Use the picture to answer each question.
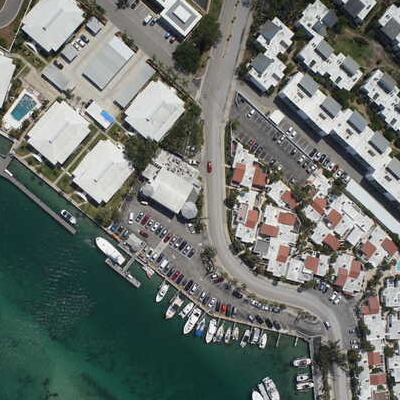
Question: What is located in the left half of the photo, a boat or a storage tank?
boat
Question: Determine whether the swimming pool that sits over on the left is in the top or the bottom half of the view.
top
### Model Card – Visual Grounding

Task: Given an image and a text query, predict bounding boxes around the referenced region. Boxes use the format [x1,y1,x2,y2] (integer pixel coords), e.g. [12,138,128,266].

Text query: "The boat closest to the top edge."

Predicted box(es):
[62,211,77,223]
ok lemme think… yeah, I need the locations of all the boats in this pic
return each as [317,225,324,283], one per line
[241,329,251,349]
[196,319,206,338]
[166,293,184,319]
[252,327,261,345]
[142,265,151,277]
[263,376,280,400]
[234,327,240,342]
[215,323,225,344]
[96,237,126,267]
[180,303,193,319]
[293,358,314,367]
[225,327,232,345]
[297,375,312,382]
[207,317,218,344]
[157,282,170,301]
[260,333,268,351]
[62,211,77,223]
[185,307,203,335]
[297,382,316,389]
